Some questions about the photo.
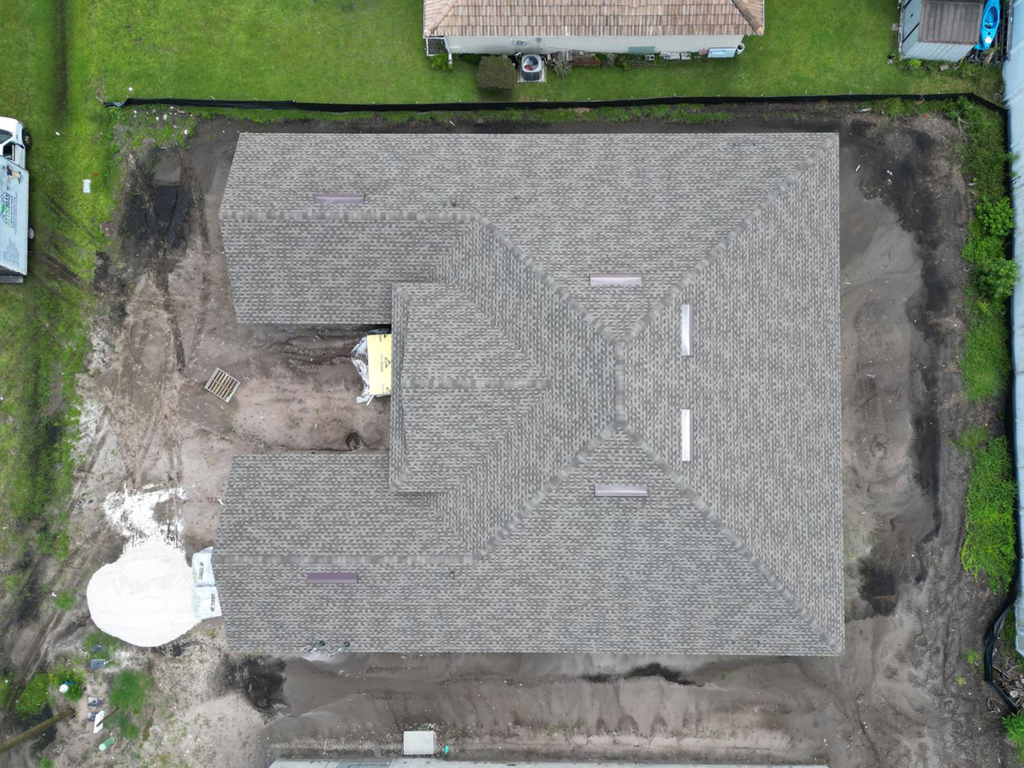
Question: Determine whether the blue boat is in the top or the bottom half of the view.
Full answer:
The blue boat is in the top half of the image.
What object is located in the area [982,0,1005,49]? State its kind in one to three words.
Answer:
boat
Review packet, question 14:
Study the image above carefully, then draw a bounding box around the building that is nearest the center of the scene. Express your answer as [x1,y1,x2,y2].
[212,132,845,655]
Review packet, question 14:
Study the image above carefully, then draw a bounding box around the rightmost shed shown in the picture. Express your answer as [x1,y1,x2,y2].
[902,0,983,62]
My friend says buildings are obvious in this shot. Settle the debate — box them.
[272,758,828,768]
[902,0,983,62]
[421,0,768,62]
[212,132,845,655]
